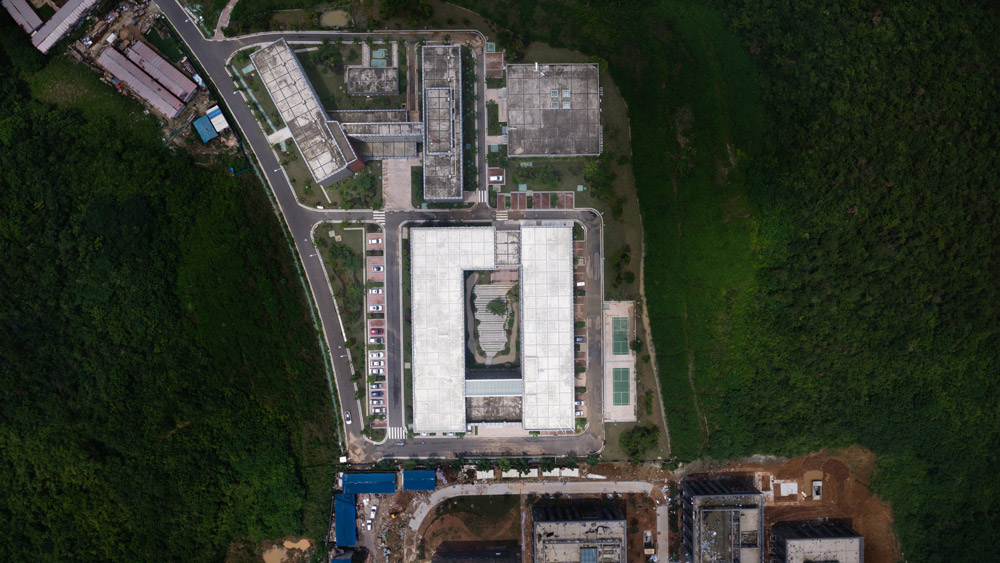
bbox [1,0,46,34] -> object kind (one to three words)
shed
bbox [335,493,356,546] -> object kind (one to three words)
shed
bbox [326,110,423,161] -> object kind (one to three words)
building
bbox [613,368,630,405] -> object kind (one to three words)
sports court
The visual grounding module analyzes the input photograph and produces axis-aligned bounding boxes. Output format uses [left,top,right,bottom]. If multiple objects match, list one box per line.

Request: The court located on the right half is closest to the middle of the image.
[612,317,630,354]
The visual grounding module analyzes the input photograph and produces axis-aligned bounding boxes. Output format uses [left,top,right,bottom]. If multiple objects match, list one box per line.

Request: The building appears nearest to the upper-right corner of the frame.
[503,62,604,160]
